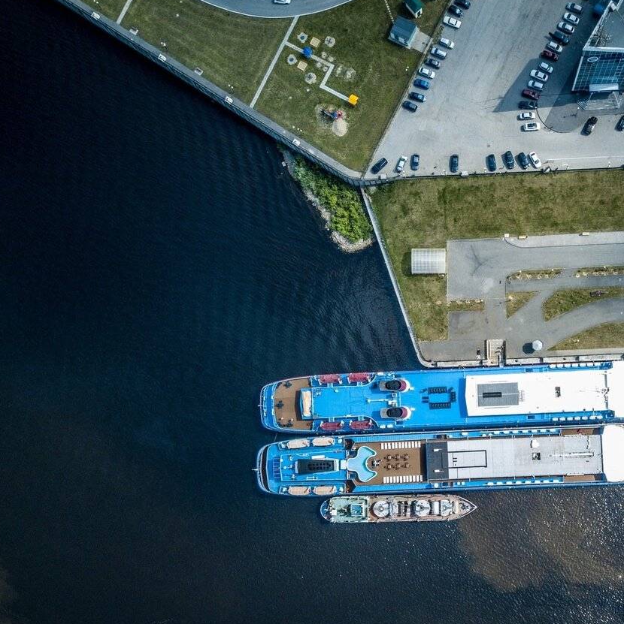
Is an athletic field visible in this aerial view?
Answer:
No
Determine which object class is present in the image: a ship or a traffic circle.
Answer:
ship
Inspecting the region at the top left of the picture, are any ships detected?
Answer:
No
